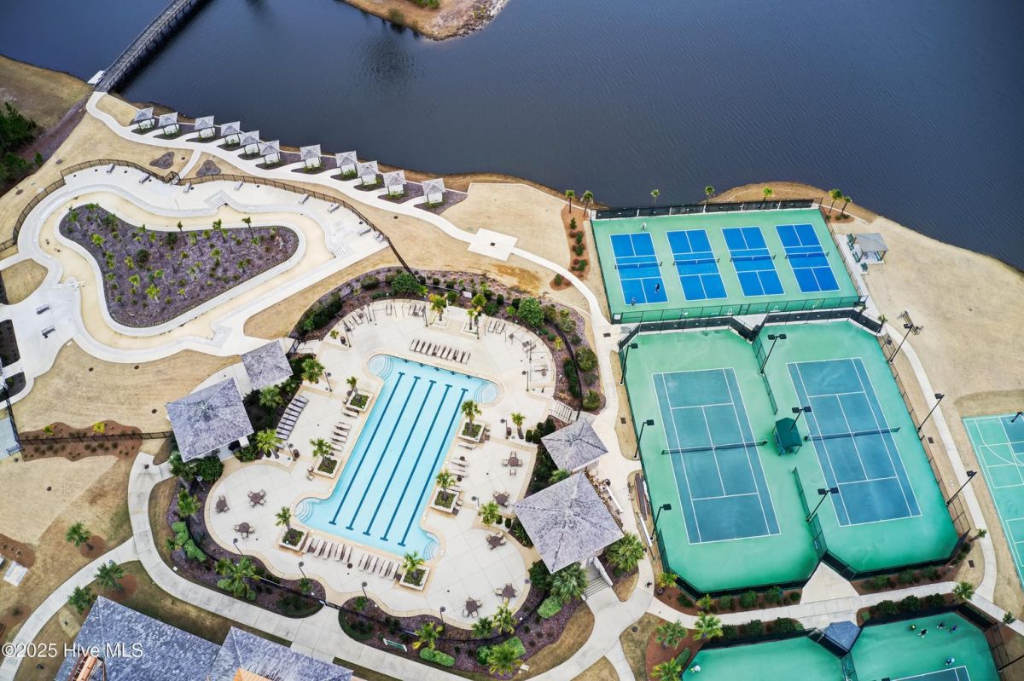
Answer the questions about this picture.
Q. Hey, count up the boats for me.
0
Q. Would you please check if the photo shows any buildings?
Yes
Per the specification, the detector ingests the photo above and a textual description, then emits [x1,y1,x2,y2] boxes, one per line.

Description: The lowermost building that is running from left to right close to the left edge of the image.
[43,596,222,681]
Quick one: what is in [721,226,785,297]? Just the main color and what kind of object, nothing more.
blue sports court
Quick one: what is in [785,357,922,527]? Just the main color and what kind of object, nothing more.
blue tennis court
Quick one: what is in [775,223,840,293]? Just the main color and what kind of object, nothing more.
blue sports court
